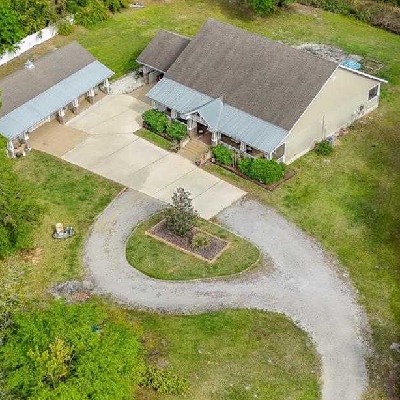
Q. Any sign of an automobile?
No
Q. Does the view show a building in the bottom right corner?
No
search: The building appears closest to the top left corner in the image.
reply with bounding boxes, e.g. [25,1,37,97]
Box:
[0,41,115,158]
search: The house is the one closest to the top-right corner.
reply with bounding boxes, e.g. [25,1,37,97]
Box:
[135,18,389,170]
